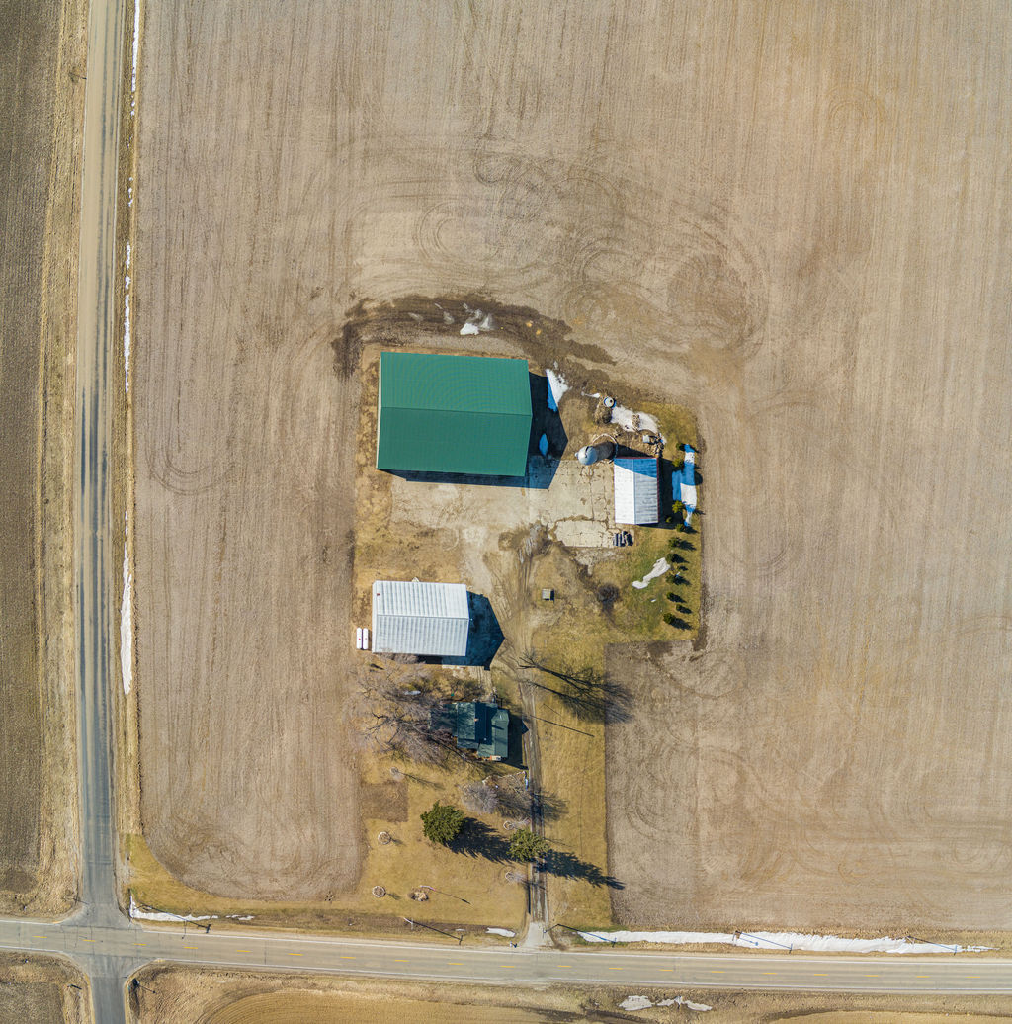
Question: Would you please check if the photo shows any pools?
No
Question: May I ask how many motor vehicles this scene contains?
0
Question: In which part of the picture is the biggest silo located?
center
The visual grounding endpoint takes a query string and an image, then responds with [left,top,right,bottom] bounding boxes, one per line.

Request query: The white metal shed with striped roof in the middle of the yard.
[369,578,471,656]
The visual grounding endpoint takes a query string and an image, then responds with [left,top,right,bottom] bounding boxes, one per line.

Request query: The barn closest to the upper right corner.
[613,457,660,524]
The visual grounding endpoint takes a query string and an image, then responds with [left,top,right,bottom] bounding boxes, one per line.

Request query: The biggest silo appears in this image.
[576,438,615,461]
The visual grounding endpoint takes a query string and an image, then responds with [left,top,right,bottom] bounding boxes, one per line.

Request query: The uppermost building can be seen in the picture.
[374,353,532,476]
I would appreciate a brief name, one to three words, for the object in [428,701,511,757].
house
